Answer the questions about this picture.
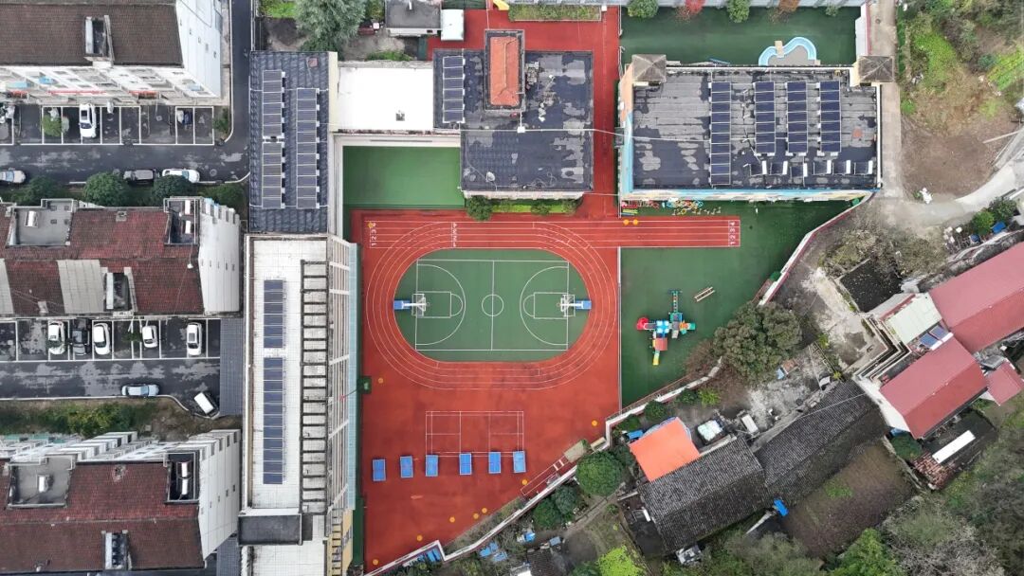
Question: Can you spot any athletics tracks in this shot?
Yes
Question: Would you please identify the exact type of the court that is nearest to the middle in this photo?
basketball court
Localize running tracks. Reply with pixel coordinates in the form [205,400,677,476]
[365,217,741,390]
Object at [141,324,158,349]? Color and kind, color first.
white car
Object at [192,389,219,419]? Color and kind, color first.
white vehicle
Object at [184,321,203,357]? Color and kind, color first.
white car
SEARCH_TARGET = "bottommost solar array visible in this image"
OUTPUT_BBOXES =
[264,358,288,484]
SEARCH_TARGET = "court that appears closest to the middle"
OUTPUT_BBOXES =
[394,248,589,362]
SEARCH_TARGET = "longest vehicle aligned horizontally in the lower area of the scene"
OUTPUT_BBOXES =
[121,382,160,399]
